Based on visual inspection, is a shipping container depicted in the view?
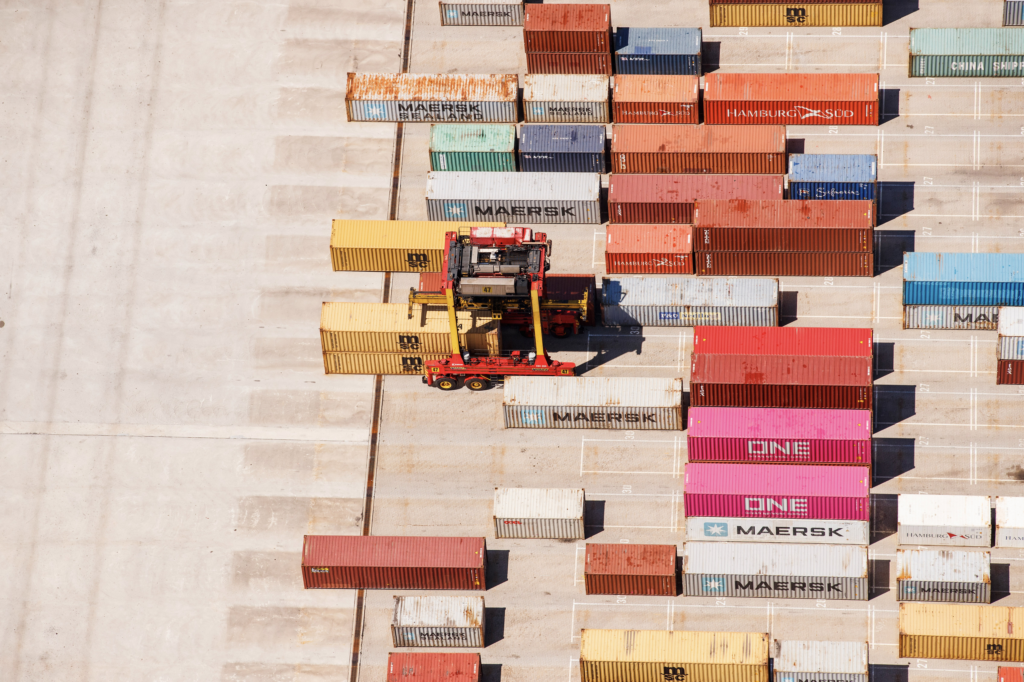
Yes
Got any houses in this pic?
No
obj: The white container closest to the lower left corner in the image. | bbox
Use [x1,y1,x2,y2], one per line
[391,596,486,648]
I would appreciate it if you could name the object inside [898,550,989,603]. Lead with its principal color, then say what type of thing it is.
white shipping container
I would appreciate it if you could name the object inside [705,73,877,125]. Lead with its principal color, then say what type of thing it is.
red shipping container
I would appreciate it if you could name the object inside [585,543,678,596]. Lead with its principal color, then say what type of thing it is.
red shipping container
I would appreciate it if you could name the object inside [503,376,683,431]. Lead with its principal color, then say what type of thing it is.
white shipping container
